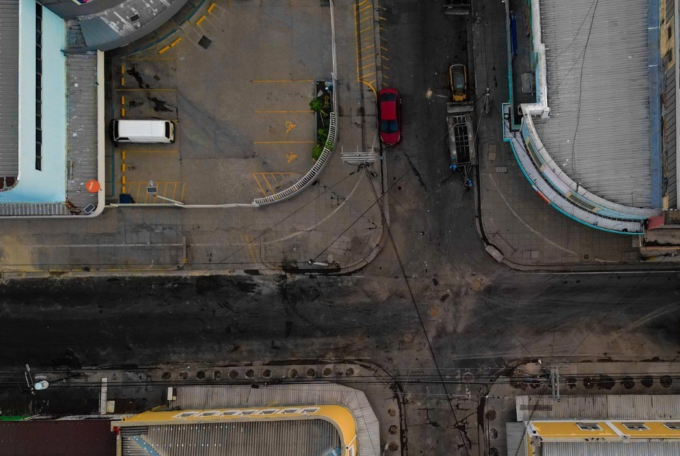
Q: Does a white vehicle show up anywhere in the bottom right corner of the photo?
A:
No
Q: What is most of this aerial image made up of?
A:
paved ground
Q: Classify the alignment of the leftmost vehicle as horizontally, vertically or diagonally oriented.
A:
horizontally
